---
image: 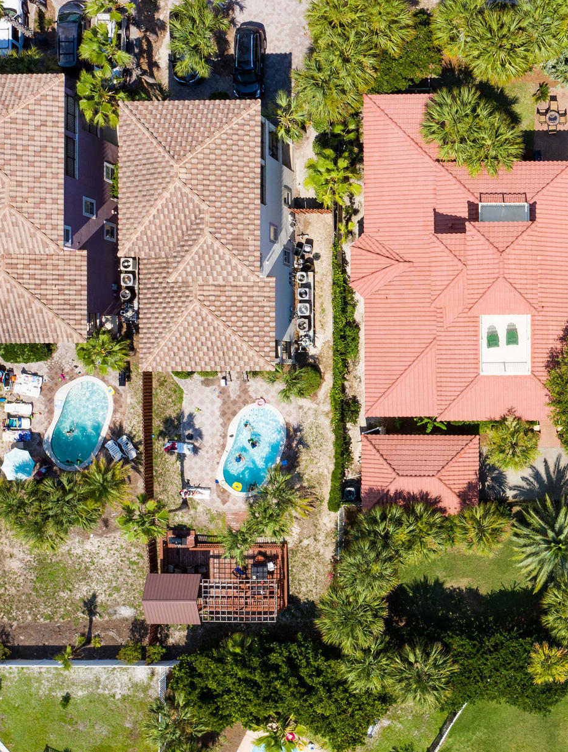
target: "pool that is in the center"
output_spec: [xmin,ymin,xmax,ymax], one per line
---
[217,404,286,496]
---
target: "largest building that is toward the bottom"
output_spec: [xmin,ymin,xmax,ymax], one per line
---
[359,434,480,517]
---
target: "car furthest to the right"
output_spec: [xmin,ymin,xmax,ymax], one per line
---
[228,18,271,105]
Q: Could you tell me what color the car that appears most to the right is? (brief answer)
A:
black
